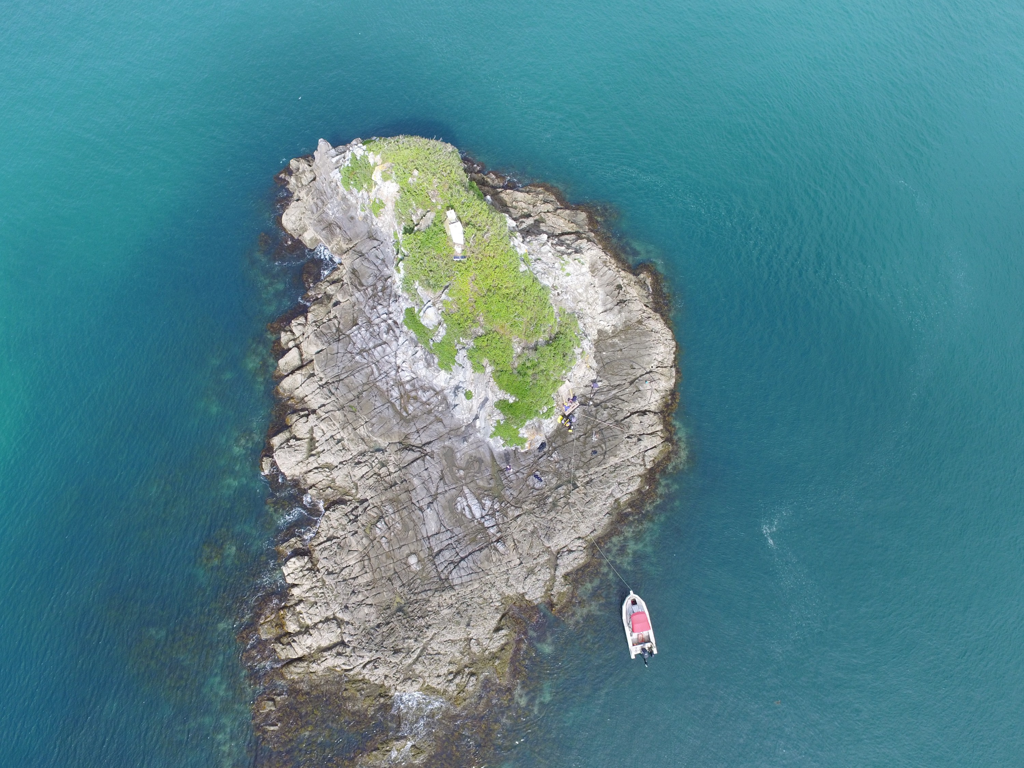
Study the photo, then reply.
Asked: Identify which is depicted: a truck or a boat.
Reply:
boat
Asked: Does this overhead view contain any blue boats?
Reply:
No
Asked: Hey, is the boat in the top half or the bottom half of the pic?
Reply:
bottom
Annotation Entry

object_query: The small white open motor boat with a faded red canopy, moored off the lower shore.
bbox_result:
[622,590,657,667]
